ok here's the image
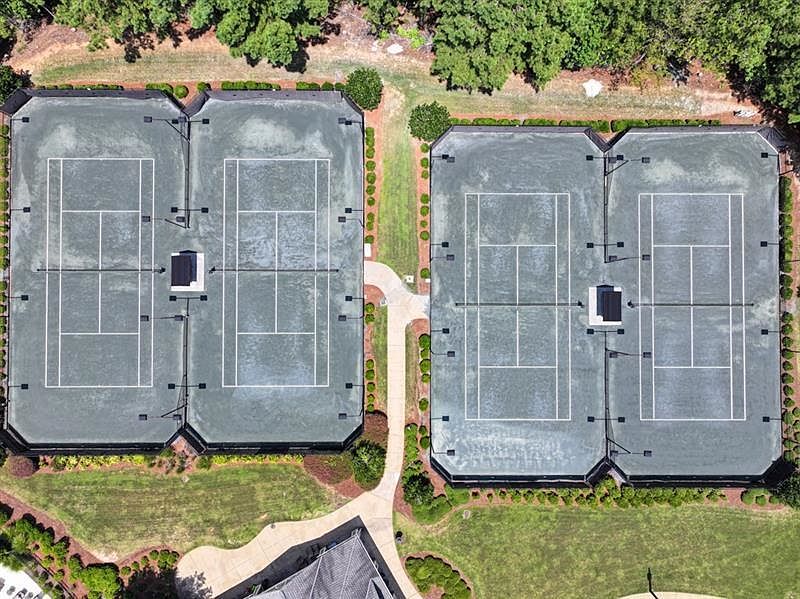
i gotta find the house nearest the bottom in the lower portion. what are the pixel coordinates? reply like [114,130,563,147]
[252,526,400,599]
